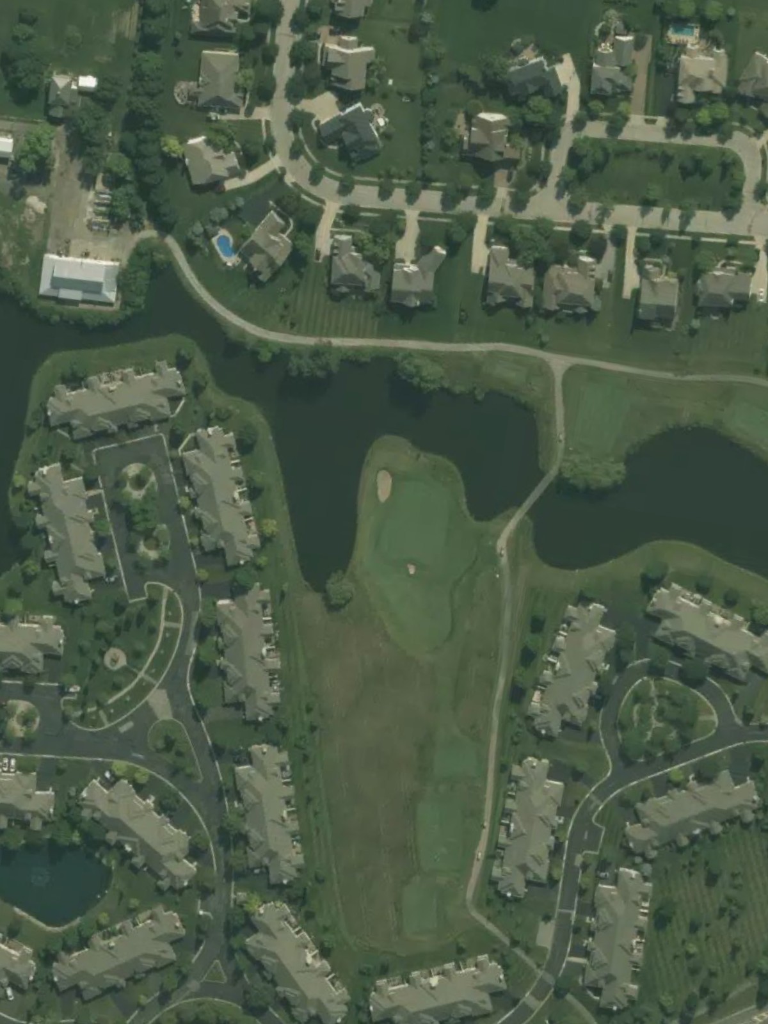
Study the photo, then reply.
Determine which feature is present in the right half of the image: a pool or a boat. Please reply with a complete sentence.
Visible in the right half of the image is a pool.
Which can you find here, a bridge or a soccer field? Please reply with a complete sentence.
Of the two, only a bridge appears.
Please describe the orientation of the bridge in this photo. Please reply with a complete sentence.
What the image shows is the bridge lying at an angle.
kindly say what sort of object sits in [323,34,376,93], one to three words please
house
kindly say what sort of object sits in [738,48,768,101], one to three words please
house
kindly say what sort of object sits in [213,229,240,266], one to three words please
swimming pool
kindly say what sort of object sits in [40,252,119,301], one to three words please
barn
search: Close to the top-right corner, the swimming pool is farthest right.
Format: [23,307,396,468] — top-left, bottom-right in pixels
[667,24,700,44]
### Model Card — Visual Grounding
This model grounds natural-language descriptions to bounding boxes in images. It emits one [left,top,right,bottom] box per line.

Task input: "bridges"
[512,466,558,519]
